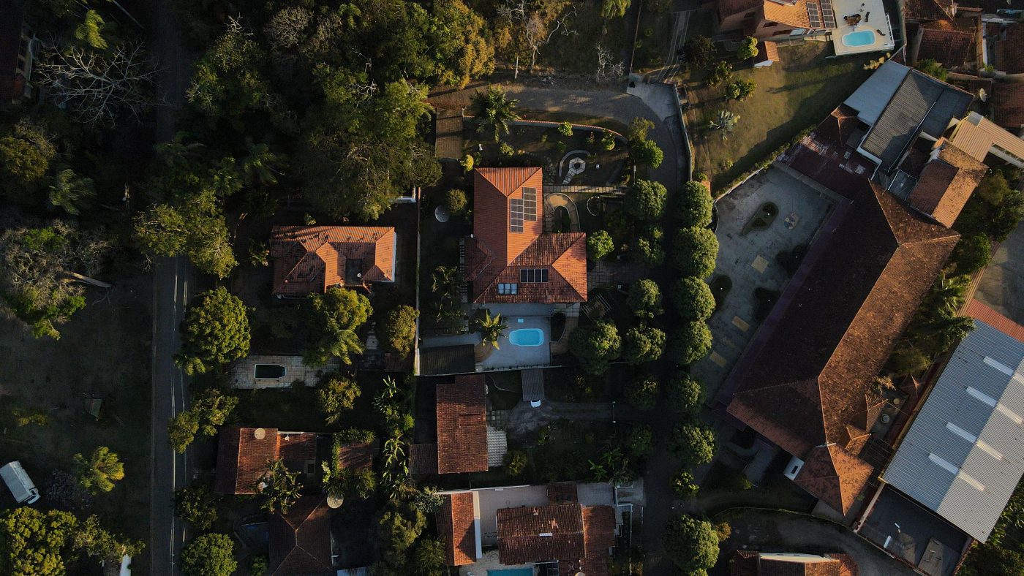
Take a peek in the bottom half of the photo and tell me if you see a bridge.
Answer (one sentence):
No, I see no bridge in the bottom half of the photo.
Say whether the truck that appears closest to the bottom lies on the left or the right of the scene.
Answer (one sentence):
The truck that appears closest to the bottom is on the left side of the image.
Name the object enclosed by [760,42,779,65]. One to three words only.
shed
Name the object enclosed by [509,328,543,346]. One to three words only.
swimming pool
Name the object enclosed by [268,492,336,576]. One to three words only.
house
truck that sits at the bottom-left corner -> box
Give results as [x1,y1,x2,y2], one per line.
[0,459,42,505]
